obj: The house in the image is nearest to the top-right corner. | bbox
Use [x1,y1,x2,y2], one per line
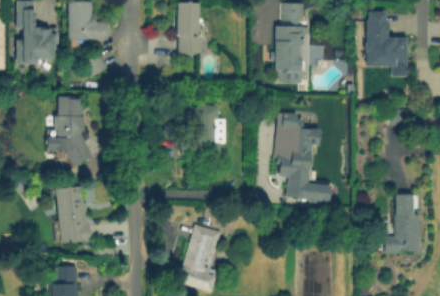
[366,12,408,78]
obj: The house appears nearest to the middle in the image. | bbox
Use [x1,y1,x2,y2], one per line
[196,106,226,146]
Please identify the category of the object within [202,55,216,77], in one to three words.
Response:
swimming pool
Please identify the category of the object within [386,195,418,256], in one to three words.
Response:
house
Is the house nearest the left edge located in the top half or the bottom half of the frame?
top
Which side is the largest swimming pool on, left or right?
right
